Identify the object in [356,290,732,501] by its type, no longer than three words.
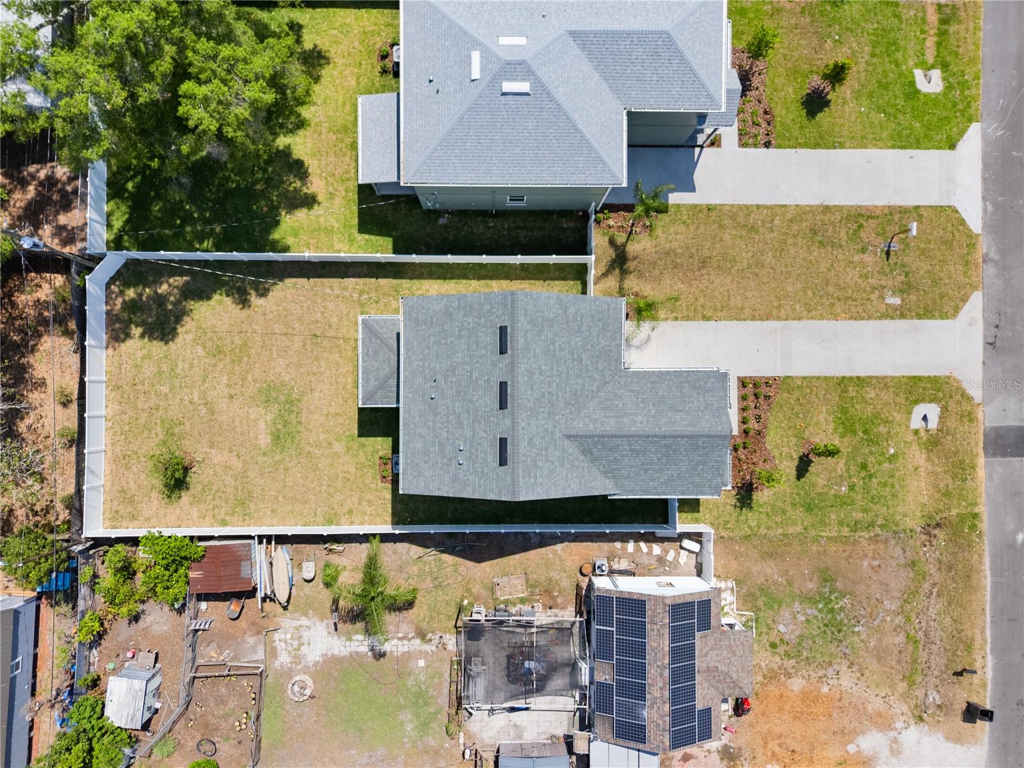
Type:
house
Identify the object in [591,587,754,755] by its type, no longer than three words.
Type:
house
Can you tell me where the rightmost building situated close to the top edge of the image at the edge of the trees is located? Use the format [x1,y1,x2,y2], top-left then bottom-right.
[356,0,739,210]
